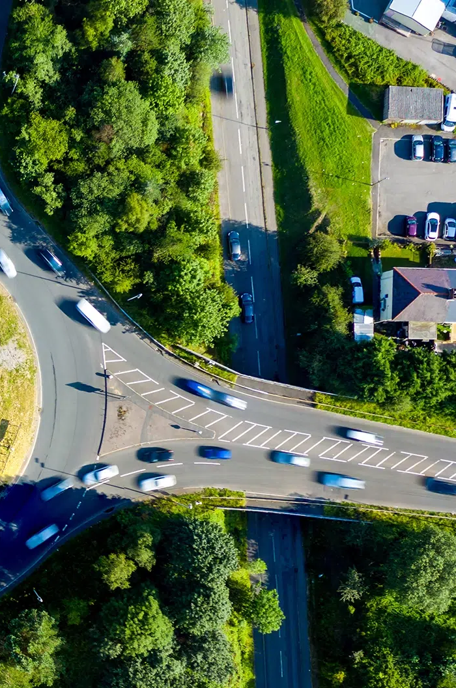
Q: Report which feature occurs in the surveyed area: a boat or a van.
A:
van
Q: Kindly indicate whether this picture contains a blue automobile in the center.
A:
Yes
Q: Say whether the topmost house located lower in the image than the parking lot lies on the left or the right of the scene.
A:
right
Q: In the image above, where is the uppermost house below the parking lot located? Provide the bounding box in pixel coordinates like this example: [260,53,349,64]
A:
[382,266,456,323]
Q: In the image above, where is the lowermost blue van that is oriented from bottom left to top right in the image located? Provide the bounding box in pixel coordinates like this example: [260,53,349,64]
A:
[25,521,61,550]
